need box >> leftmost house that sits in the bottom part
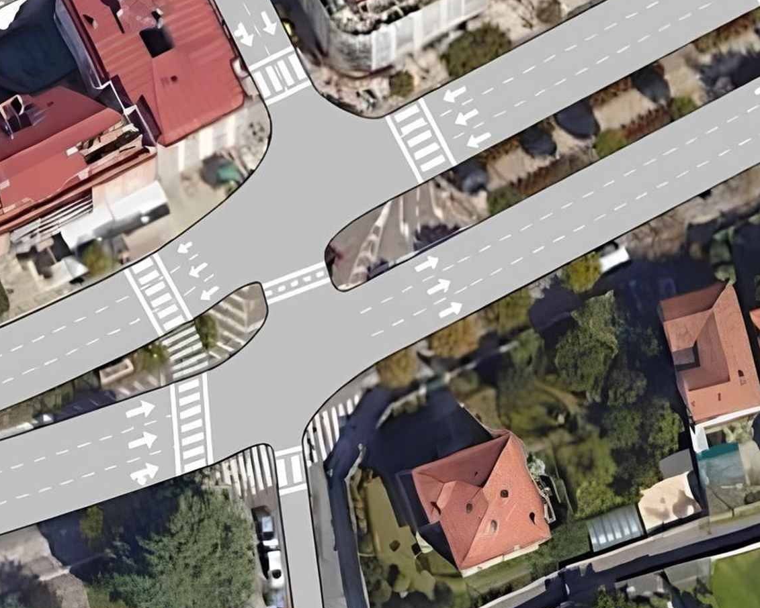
[413,428,552,574]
